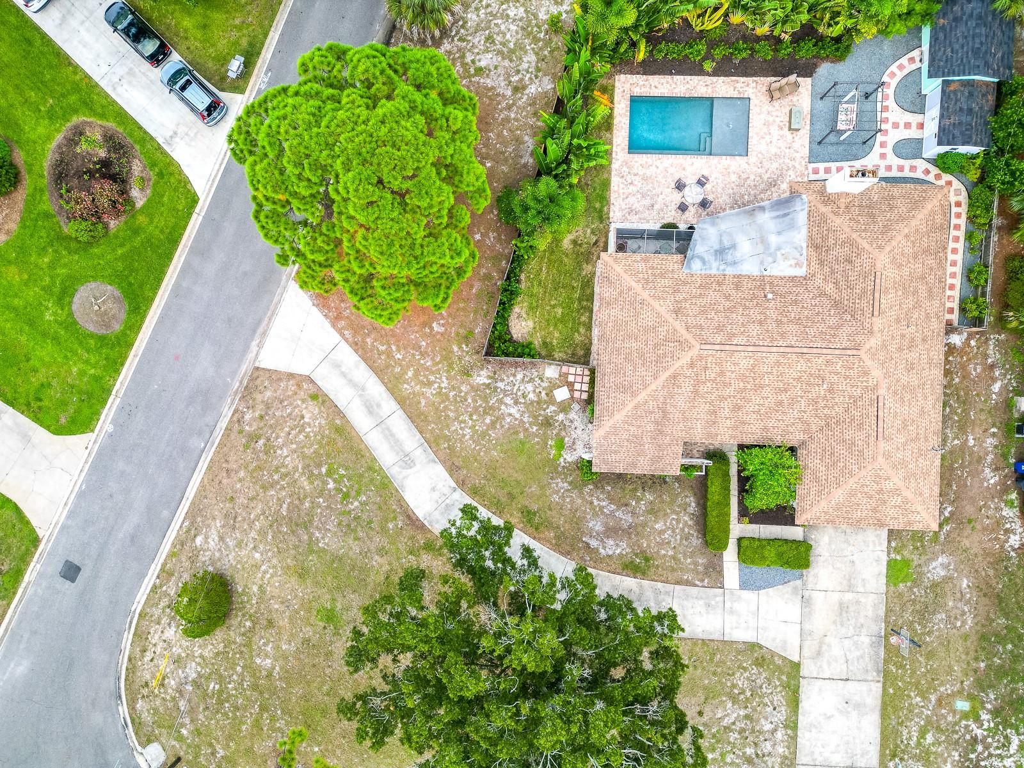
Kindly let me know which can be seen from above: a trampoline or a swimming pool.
swimming pool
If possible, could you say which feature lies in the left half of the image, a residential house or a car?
car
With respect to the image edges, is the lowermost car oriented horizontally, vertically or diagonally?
diagonally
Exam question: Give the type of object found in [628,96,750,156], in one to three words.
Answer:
swimming pool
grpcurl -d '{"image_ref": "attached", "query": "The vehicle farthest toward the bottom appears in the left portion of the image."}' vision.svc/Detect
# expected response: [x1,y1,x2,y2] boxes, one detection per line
[161,56,230,130]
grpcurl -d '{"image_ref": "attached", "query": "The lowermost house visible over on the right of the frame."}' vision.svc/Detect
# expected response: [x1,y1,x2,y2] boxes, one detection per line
[591,165,953,532]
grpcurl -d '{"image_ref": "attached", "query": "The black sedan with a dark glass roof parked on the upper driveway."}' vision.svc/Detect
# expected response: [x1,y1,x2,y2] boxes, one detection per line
[100,0,174,73]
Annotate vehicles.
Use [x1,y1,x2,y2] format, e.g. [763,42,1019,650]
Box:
[12,0,52,18]
[100,0,174,73]
[161,56,230,130]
